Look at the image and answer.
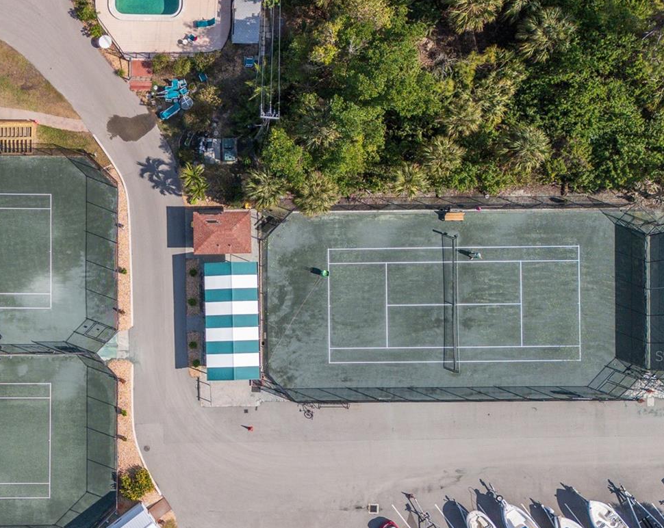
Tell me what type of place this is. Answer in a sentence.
What you see here is a sports ground.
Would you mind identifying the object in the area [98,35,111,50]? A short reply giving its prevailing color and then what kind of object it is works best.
white umbrella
